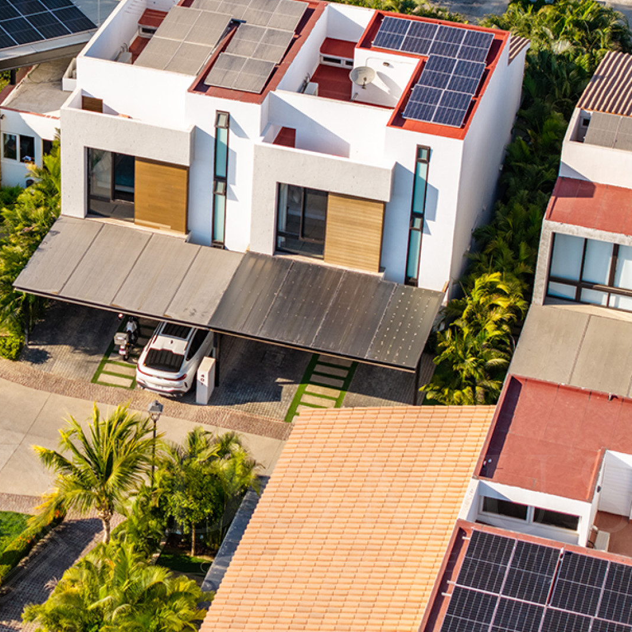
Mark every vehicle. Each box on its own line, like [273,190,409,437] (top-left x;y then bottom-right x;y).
[140,325,236,395]
[108,318,147,355]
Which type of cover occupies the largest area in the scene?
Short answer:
buildings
